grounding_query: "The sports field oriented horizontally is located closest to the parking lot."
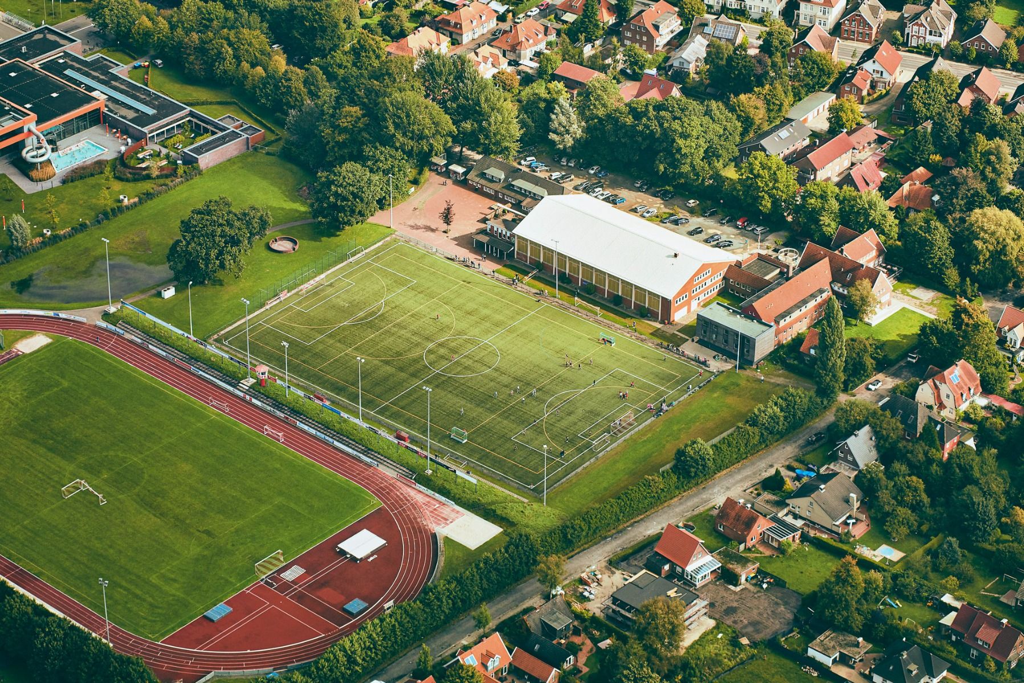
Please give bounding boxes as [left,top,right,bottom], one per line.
[207,232,722,497]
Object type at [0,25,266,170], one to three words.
building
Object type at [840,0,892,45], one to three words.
house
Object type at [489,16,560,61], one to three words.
house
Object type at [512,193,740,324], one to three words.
building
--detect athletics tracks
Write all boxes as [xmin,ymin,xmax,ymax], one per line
[0,317,435,671]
